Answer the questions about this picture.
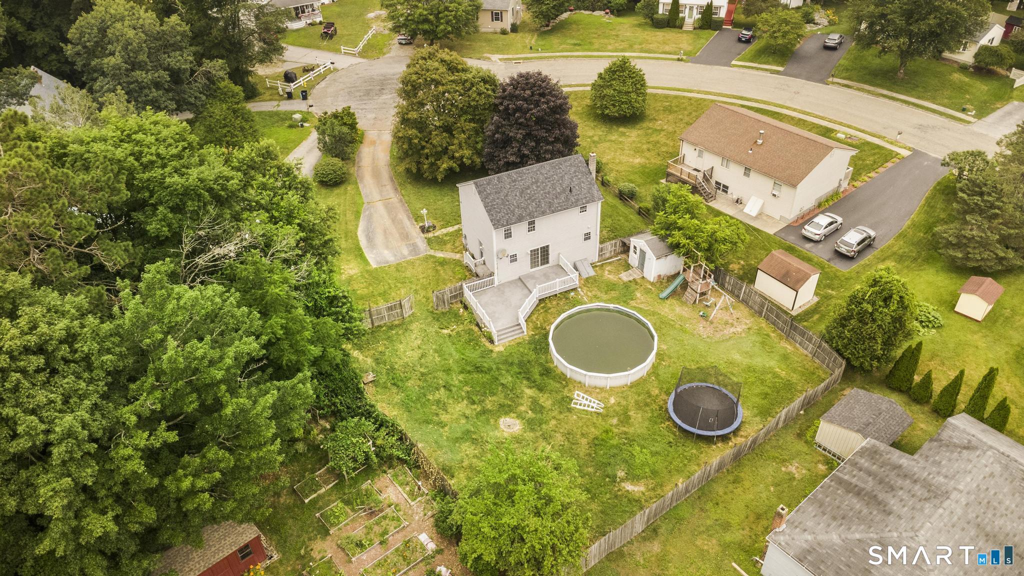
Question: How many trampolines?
1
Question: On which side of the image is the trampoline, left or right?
right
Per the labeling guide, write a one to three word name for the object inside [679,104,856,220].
house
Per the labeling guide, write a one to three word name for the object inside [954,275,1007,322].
shed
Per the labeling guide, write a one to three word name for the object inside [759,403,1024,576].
house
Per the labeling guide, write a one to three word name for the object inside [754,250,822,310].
shed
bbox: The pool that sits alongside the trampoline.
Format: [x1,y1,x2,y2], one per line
[549,302,661,390]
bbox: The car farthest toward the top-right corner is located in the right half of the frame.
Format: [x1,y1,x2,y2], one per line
[824,31,846,50]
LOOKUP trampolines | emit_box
[670,365,746,448]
